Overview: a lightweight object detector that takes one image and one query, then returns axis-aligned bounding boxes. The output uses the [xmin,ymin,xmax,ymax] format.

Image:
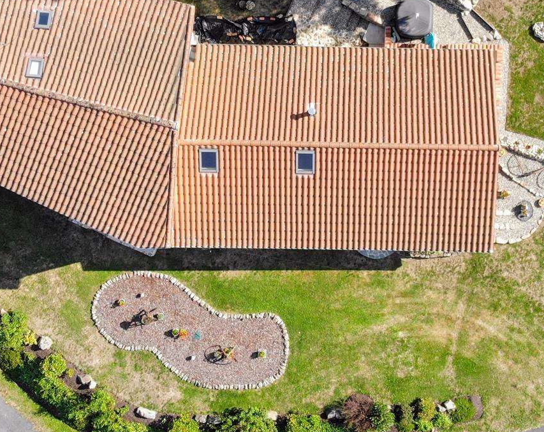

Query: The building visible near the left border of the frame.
[0,0,206,250]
